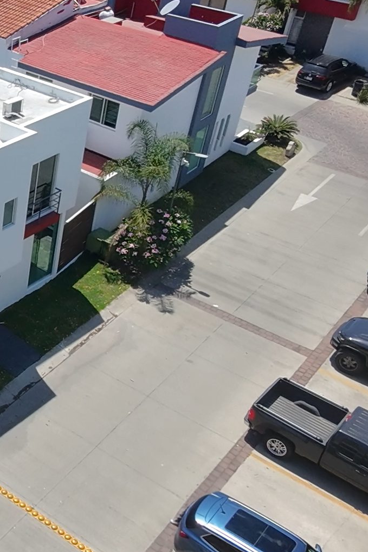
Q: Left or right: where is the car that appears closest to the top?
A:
right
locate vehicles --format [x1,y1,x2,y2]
[324,320,368,373]
[246,383,368,498]
[299,55,351,93]
[169,488,311,552]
